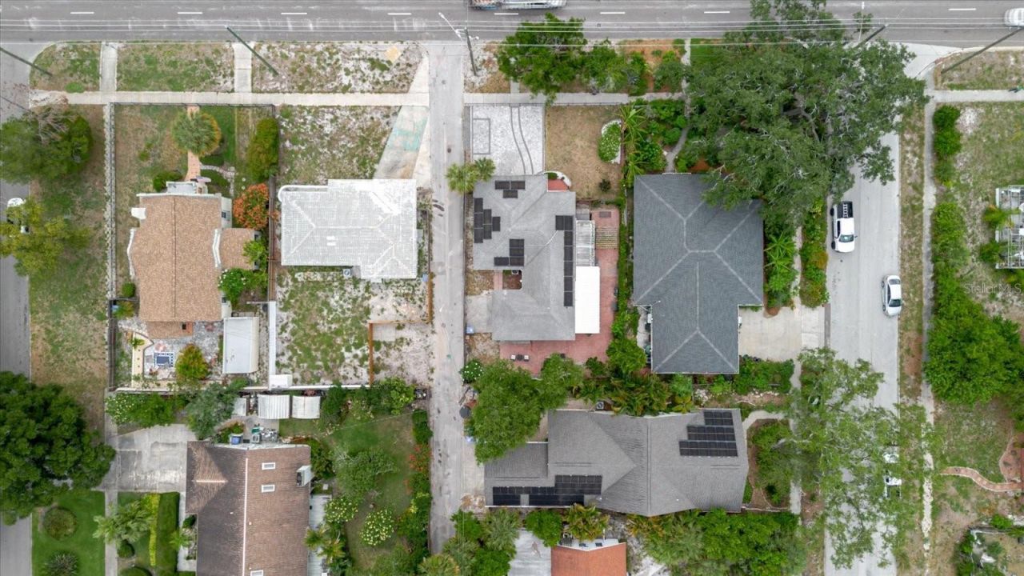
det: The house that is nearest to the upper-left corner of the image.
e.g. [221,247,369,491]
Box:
[125,183,262,338]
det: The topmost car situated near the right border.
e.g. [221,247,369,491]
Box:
[1002,3,1024,27]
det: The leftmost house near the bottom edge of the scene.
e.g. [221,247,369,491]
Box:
[180,439,324,576]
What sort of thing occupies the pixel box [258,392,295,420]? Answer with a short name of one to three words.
shed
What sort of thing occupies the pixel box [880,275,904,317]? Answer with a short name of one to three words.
car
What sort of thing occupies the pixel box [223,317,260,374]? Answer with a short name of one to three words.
shed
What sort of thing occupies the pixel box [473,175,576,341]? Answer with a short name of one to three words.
house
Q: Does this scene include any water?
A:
No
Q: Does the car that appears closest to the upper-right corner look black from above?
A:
No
